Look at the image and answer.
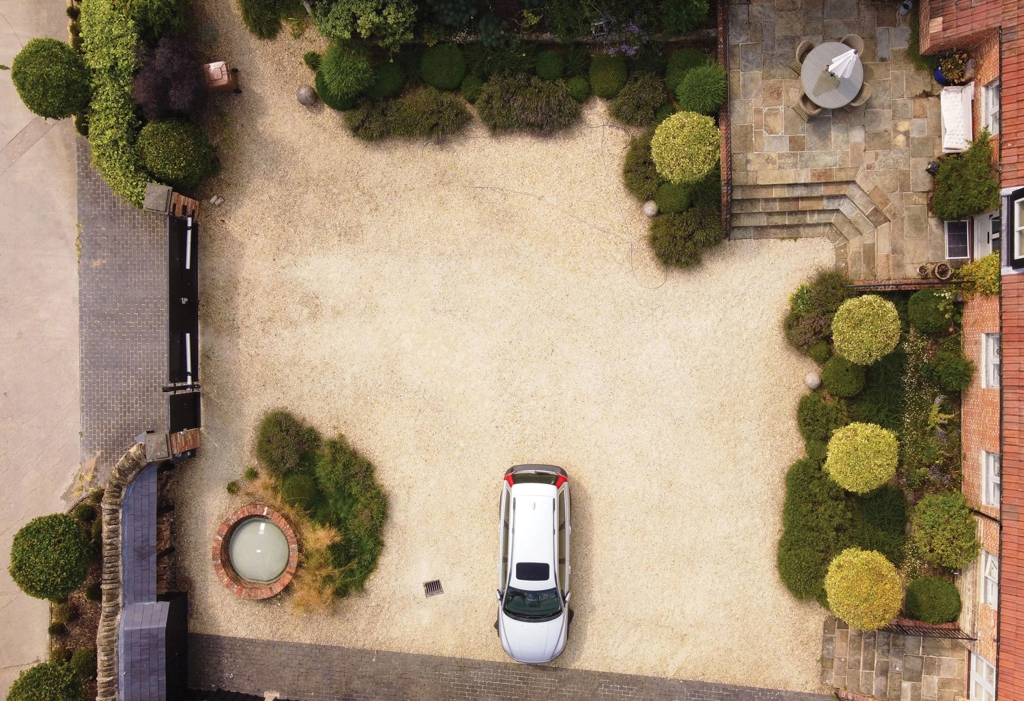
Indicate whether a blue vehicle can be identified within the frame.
No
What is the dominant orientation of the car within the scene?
up and down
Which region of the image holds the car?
bottom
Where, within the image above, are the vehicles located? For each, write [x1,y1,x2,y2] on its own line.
[494,462,576,665]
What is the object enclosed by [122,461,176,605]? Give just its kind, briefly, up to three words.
building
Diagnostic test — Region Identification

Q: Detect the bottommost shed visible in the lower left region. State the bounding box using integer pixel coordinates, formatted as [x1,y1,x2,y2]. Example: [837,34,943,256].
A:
[119,596,188,701]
